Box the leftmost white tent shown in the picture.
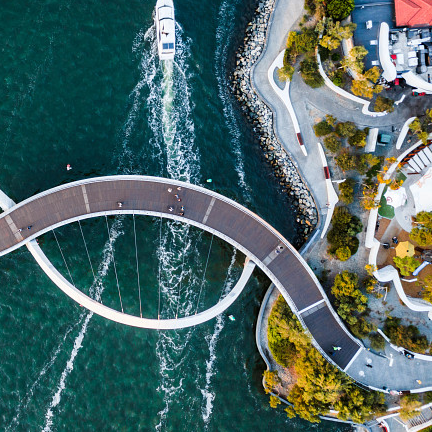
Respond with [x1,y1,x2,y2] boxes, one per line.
[382,188,407,208]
